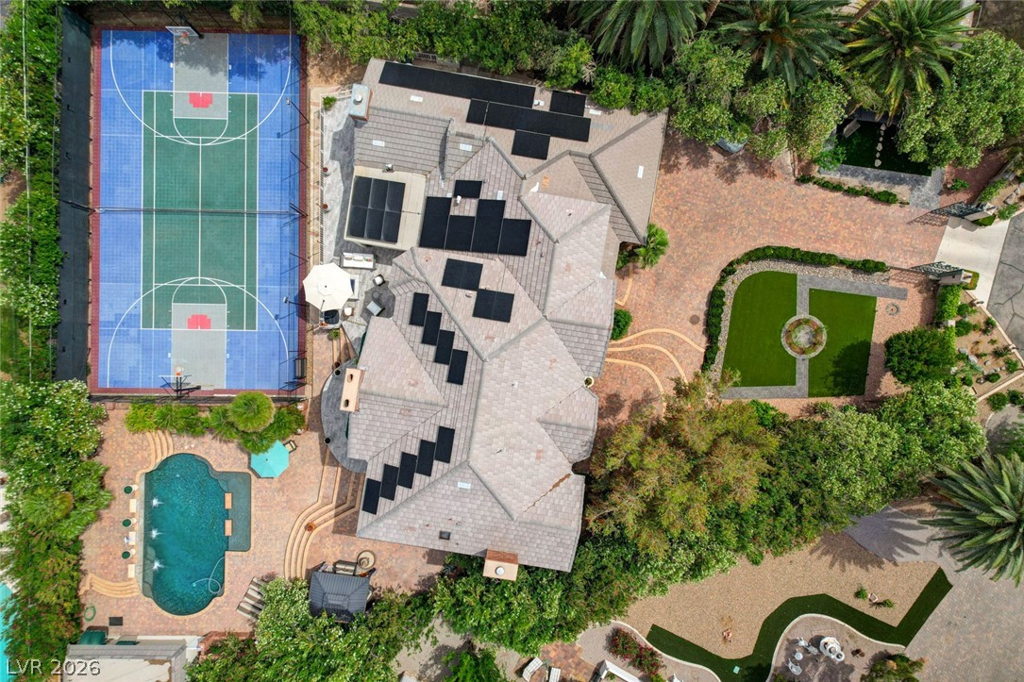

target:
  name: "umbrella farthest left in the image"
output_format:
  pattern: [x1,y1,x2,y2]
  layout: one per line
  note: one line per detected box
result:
[252,439,291,478]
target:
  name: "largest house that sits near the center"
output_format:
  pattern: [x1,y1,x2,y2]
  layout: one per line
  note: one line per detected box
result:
[340,59,668,581]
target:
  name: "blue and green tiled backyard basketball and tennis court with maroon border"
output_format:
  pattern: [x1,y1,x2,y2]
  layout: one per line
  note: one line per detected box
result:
[90,26,306,395]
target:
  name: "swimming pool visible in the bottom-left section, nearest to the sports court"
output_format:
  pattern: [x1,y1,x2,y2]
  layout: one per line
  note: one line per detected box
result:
[137,449,255,620]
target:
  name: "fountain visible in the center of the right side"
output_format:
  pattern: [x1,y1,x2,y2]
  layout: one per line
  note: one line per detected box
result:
[782,314,829,360]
